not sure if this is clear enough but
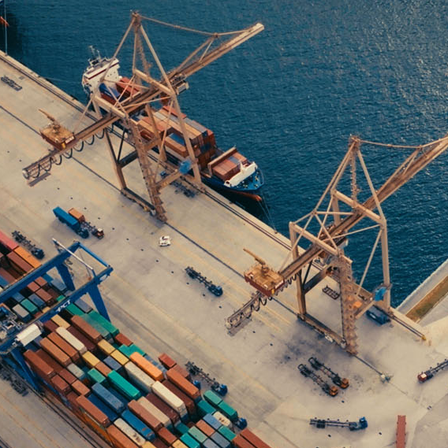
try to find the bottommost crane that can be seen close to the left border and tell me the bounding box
[0,239,114,394]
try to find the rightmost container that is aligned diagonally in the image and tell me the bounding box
[360,304,394,333]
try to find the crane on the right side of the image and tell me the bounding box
[221,129,448,357]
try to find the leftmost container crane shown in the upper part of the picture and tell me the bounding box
[14,5,263,224]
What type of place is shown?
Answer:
port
